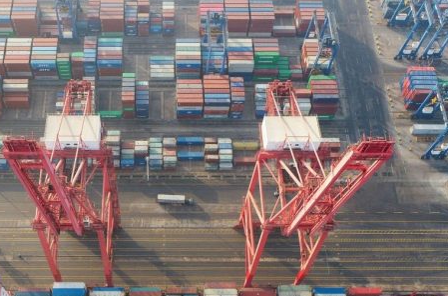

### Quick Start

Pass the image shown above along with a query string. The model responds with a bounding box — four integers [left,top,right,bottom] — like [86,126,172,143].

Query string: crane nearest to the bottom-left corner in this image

[0,76,129,291]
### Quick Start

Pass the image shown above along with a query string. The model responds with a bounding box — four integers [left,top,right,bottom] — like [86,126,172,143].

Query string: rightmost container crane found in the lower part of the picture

[225,76,410,291]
